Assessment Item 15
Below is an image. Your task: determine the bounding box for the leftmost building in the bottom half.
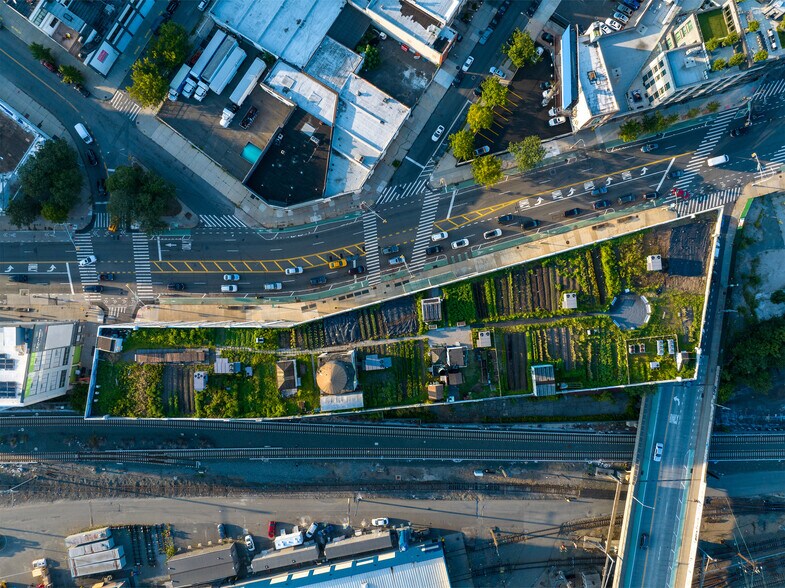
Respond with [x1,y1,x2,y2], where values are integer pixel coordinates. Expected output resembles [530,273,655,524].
[0,320,80,409]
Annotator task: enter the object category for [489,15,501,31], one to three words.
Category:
vehicle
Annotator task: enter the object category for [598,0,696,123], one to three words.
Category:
building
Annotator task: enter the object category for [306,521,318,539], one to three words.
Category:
vehicle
